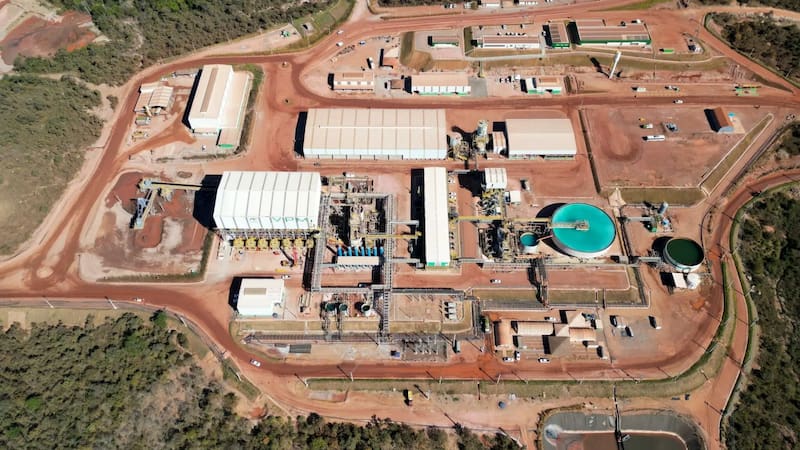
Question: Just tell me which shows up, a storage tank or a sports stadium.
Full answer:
Of the two, only a storage tank appears.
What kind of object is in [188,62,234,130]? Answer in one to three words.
building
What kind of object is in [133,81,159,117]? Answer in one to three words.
shed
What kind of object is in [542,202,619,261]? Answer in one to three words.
storage tank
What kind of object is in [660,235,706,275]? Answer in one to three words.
water tank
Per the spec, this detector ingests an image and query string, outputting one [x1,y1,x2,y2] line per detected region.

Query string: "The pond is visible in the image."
[534,404,710,450]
